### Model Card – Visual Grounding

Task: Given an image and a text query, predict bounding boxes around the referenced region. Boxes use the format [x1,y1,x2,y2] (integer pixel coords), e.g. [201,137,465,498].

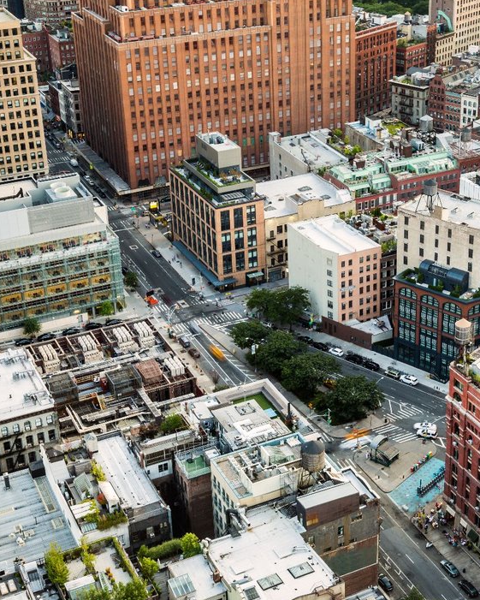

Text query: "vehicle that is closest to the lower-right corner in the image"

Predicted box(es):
[458,578,480,597]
